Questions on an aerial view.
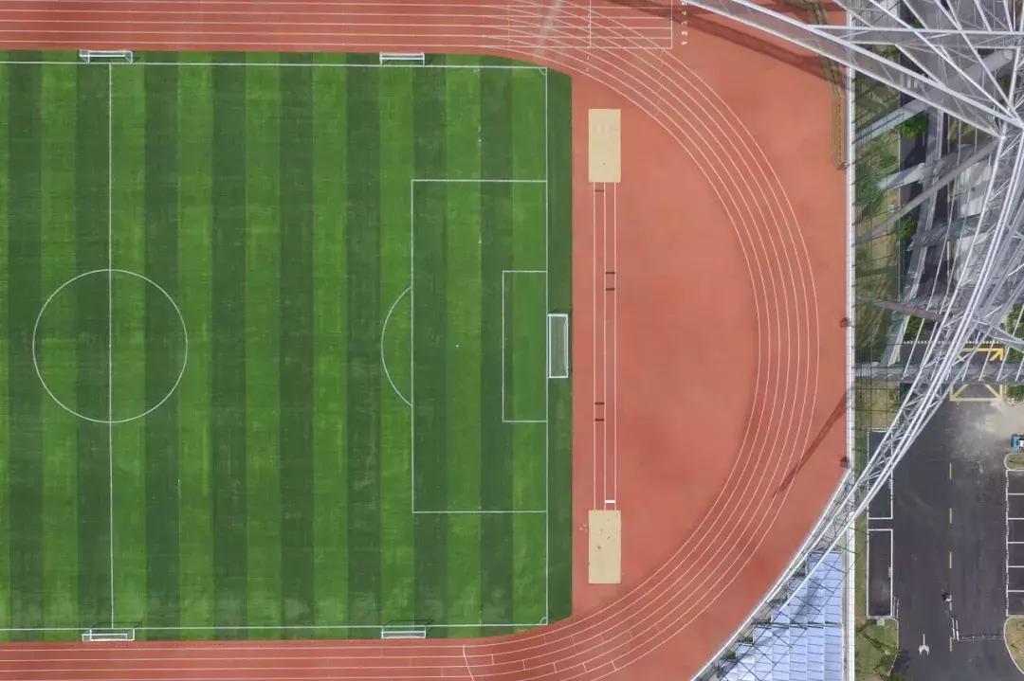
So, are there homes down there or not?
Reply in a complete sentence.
No, the picture doesn't show any home.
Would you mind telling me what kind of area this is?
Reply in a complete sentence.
It's a sports ground.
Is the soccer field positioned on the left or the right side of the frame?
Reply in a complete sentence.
The soccer field appears in the left half of the scene.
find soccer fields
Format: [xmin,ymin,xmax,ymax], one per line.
[0,49,571,641]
